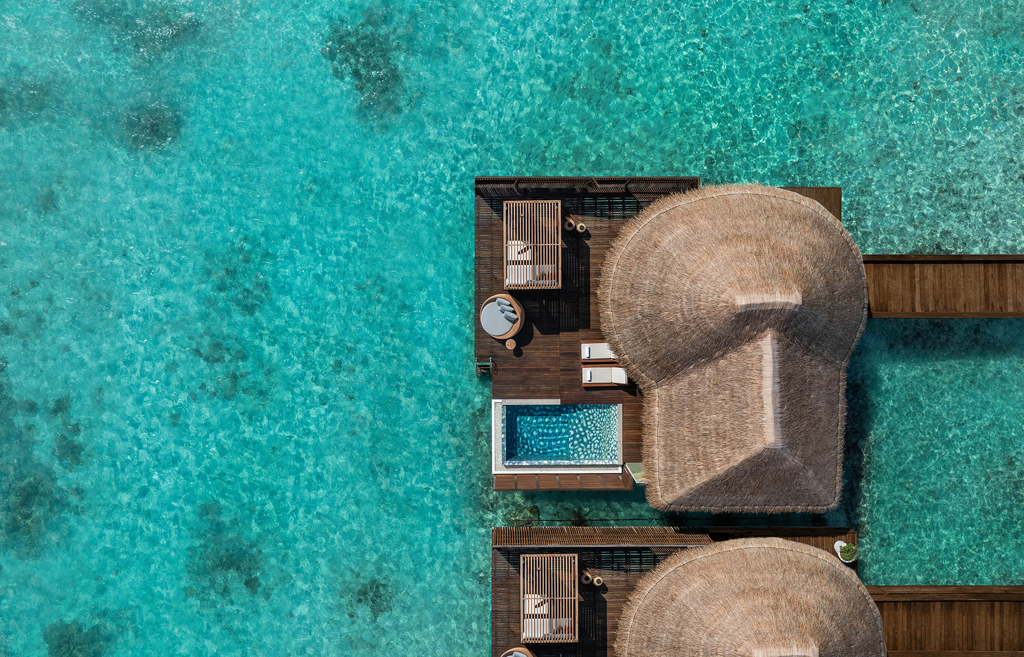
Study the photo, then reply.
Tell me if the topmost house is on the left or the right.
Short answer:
right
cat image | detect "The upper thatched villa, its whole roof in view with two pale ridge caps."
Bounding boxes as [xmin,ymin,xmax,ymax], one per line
[595,181,871,518]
